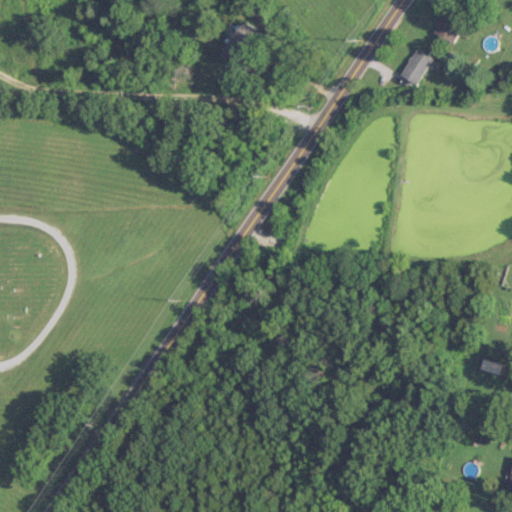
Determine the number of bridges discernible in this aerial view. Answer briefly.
none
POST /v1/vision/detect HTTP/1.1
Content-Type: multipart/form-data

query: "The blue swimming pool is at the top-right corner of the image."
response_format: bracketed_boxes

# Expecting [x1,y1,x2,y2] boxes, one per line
[482,36,502,52]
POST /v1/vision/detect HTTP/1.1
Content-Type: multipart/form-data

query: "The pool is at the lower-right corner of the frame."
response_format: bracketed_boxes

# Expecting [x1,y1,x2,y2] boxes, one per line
[464,459,480,478]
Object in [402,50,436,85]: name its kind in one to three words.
house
